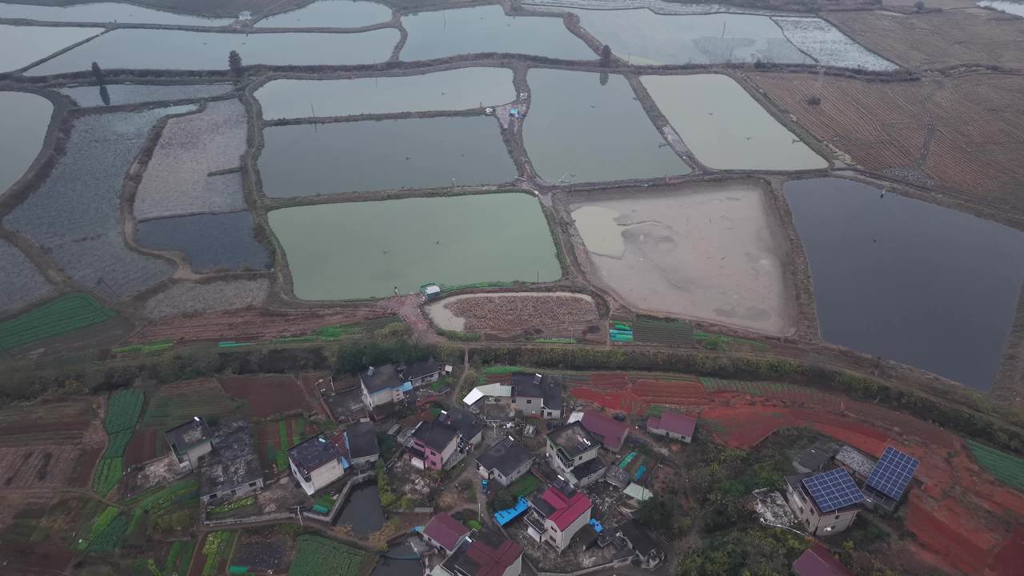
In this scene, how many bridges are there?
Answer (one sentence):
The count of bridges is 0.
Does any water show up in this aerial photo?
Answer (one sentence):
Yes, there's water in this view.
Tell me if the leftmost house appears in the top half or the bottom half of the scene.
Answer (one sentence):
Seen from above, the leftmost house lies in the bottom half of the view.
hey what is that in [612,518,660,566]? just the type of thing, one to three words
shed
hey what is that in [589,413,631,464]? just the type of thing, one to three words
barn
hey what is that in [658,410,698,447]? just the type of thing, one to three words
house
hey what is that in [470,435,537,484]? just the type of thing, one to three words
house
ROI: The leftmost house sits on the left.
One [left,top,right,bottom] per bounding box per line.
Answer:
[160,417,214,477]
